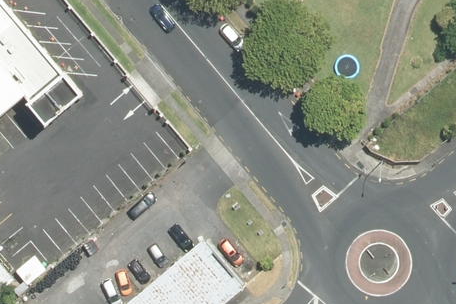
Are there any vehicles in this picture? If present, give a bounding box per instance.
[147,242,170,268]
[102,279,122,304]
[128,258,151,284]
[116,268,133,296]
[168,224,194,252]
[149,3,176,34]
[219,22,244,52]
[218,238,244,267]
[127,192,156,220]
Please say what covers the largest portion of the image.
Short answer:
paved ground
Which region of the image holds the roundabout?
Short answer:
bottom right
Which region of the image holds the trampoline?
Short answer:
top right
